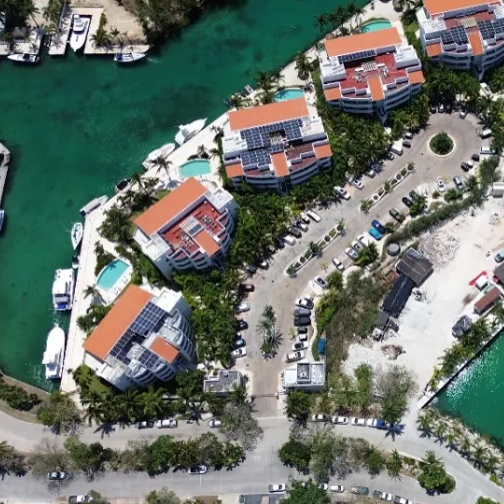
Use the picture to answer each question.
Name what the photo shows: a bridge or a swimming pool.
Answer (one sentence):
The image shows a swimming pool.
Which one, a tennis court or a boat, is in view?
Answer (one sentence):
The one in the frame is a boat.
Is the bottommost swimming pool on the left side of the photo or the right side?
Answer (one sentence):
The bottommost swimming pool sits on the left side.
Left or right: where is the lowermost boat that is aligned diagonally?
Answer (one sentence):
You can find the lowermost boat that is aligned diagonally on the left side of the picture.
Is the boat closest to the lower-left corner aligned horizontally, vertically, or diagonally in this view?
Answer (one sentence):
I'd say the boat closest to the lower-left corner is aligned vertically in the picture.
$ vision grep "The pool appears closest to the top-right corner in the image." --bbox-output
[360,19,393,33]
